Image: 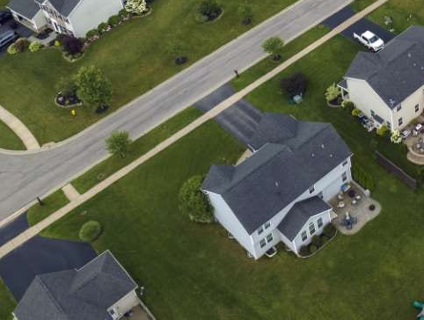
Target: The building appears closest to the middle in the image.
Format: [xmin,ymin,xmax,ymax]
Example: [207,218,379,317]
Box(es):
[196,102,355,260]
